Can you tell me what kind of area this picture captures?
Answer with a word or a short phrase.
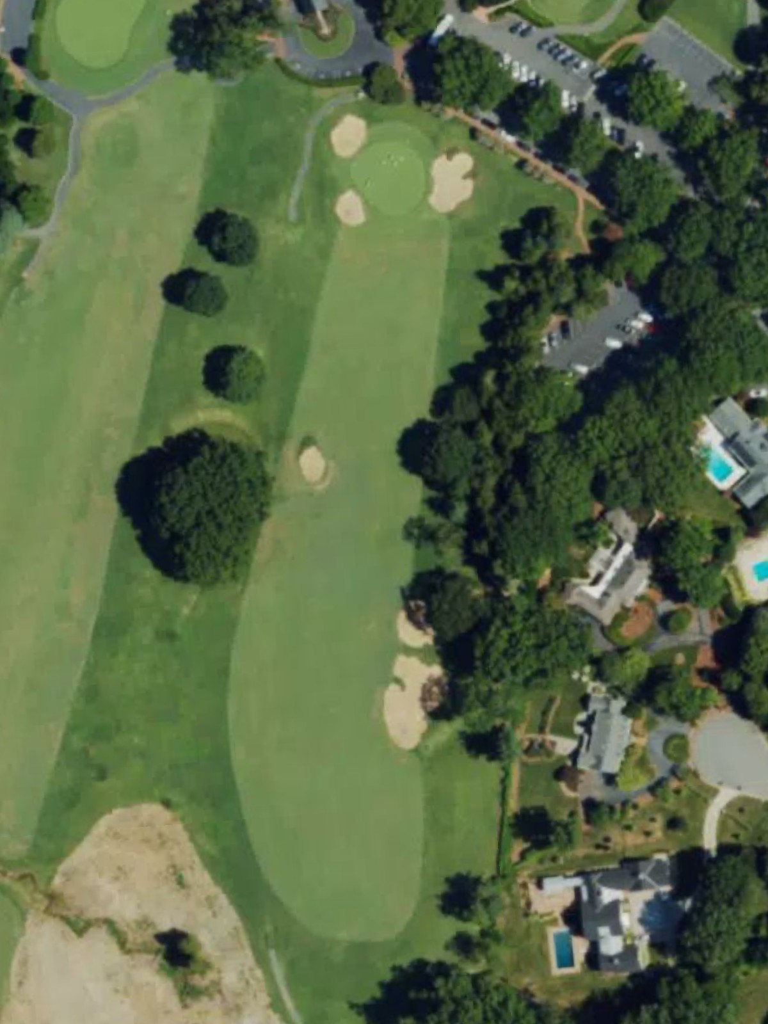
golf course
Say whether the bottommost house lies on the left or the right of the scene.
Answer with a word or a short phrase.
right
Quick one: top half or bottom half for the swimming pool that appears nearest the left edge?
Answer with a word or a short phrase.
bottom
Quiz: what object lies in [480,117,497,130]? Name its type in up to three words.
vehicle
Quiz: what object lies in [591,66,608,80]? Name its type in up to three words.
car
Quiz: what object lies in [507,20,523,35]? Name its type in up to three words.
car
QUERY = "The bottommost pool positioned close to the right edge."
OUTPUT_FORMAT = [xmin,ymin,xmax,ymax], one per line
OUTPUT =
[732,531,768,604]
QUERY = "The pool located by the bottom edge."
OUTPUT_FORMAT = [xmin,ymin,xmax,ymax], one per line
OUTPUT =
[547,927,589,976]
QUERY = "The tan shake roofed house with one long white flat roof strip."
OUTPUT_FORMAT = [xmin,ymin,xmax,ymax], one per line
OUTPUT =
[566,506,650,624]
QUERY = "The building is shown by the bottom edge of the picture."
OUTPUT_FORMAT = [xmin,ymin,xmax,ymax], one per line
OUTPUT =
[543,854,674,977]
